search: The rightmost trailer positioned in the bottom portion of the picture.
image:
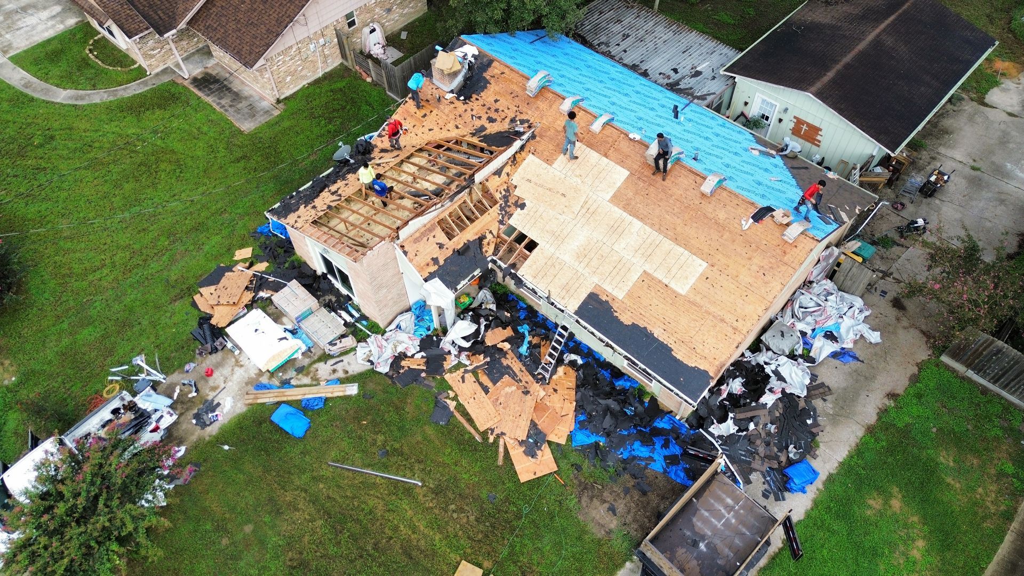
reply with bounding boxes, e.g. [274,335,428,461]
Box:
[615,445,801,576]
